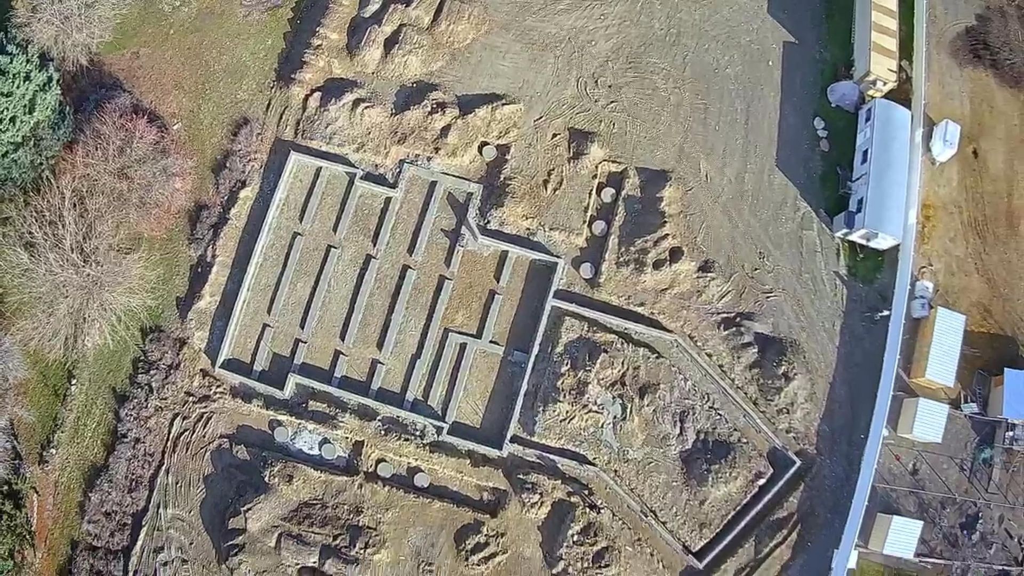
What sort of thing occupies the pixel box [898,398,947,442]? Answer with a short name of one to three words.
shed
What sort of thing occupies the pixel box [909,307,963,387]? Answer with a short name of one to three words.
shed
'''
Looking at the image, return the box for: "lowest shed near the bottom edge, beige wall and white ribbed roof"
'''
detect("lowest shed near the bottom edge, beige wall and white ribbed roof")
[870,511,921,558]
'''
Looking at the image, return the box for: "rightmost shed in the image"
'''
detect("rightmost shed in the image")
[982,368,1024,421]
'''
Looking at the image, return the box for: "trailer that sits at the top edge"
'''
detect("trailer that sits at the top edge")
[854,0,899,104]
